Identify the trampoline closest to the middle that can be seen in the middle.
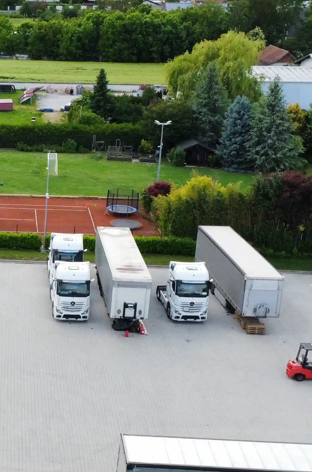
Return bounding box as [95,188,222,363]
[110,215,143,232]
